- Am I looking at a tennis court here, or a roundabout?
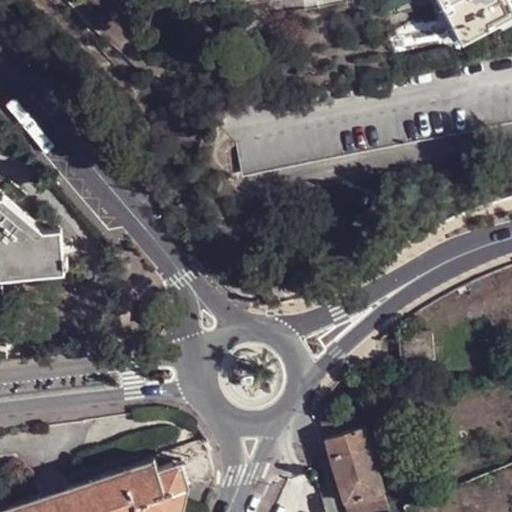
roundabout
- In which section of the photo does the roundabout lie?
bottom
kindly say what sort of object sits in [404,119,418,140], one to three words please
vehicle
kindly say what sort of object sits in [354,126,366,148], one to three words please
vehicle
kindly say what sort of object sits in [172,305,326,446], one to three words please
roundabout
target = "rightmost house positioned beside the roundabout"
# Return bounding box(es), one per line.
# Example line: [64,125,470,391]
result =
[325,430,392,512]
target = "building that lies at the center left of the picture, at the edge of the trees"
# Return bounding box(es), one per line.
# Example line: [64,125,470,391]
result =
[0,192,73,284]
